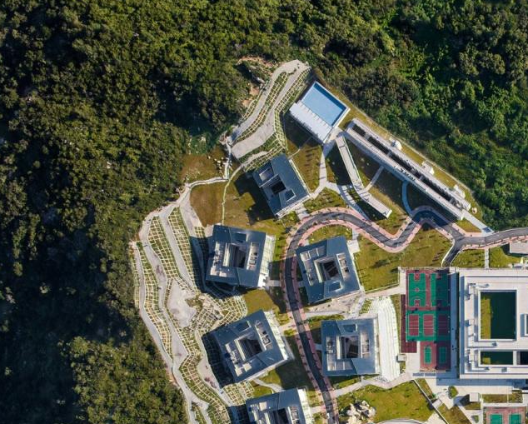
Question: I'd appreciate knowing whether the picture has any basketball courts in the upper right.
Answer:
No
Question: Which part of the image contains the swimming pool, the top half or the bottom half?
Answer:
top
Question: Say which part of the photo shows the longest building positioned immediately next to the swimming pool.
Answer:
right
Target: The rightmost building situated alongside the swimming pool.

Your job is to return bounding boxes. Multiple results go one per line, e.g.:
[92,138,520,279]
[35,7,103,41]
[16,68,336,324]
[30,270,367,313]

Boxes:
[346,119,472,223]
